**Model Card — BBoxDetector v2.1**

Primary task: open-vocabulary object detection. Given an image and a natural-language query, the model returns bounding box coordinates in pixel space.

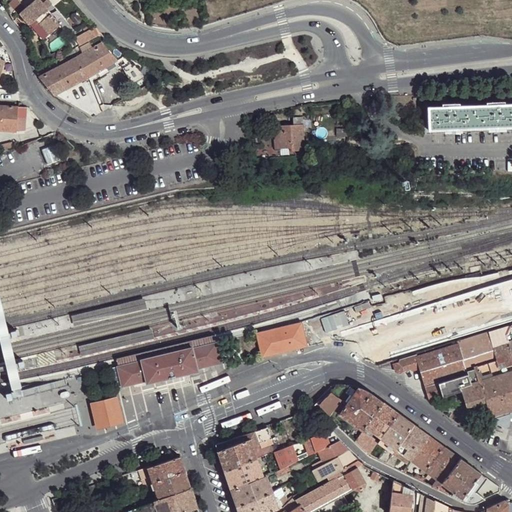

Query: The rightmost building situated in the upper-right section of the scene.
[426,102,512,136]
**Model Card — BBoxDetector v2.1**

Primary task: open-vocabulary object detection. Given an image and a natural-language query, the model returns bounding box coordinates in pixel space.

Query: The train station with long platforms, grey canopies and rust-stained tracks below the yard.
[14,250,369,386]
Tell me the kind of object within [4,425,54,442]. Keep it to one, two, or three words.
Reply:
train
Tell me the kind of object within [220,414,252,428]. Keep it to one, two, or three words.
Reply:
vehicle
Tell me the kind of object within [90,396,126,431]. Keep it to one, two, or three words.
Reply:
building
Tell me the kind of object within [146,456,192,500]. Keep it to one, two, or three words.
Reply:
house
